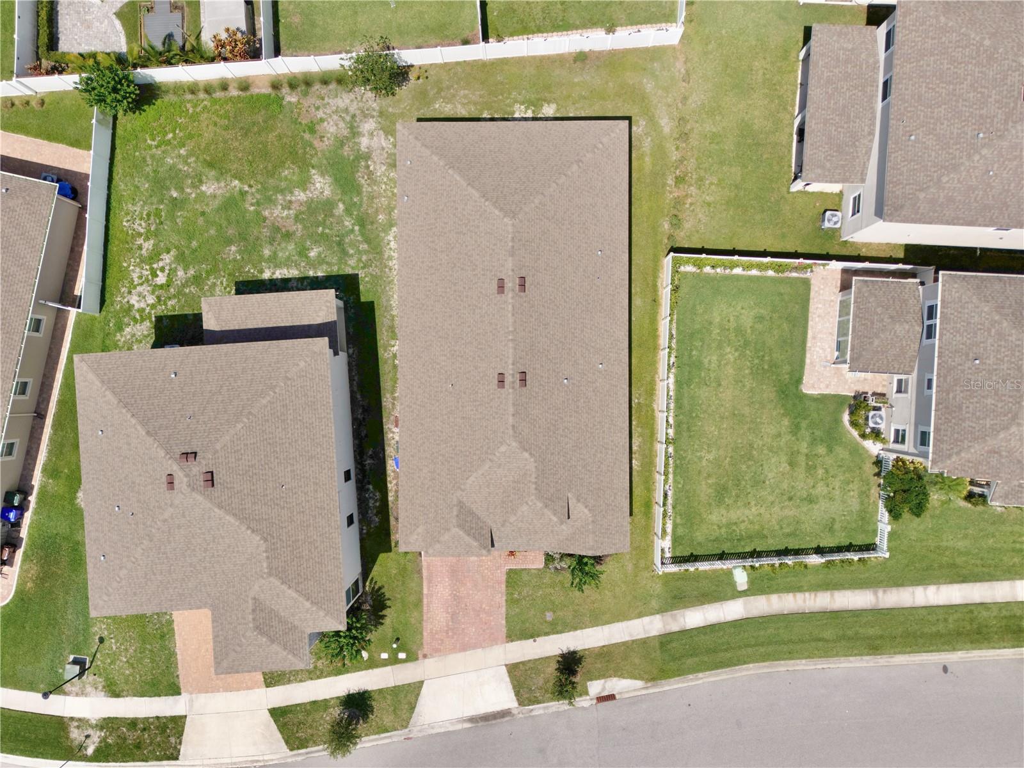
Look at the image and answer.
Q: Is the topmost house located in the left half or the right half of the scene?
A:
right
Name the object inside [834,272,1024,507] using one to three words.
house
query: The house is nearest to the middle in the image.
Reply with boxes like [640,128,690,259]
[396,119,630,557]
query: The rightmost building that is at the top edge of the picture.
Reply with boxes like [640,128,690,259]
[792,0,1024,248]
